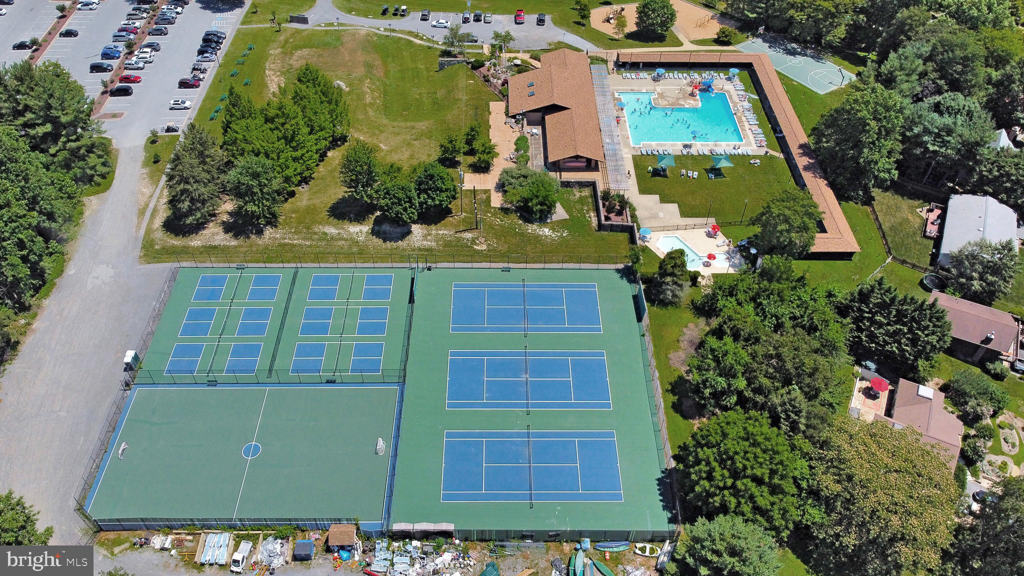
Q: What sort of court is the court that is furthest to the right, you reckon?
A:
basketball court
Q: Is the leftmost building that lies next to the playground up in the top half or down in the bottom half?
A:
top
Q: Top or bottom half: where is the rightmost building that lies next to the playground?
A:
top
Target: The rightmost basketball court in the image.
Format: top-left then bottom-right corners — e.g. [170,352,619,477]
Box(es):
[735,32,856,94]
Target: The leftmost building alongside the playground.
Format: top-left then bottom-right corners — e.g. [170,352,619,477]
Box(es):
[509,48,605,175]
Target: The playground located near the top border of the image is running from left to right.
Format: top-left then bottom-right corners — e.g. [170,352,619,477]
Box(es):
[591,0,738,41]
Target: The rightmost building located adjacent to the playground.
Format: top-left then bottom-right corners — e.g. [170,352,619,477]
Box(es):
[617,51,862,261]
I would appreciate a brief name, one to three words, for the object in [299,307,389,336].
sports court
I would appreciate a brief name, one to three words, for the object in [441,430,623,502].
tennis court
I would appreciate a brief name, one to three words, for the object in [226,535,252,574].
truck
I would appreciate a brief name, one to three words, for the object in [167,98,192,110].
vehicle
